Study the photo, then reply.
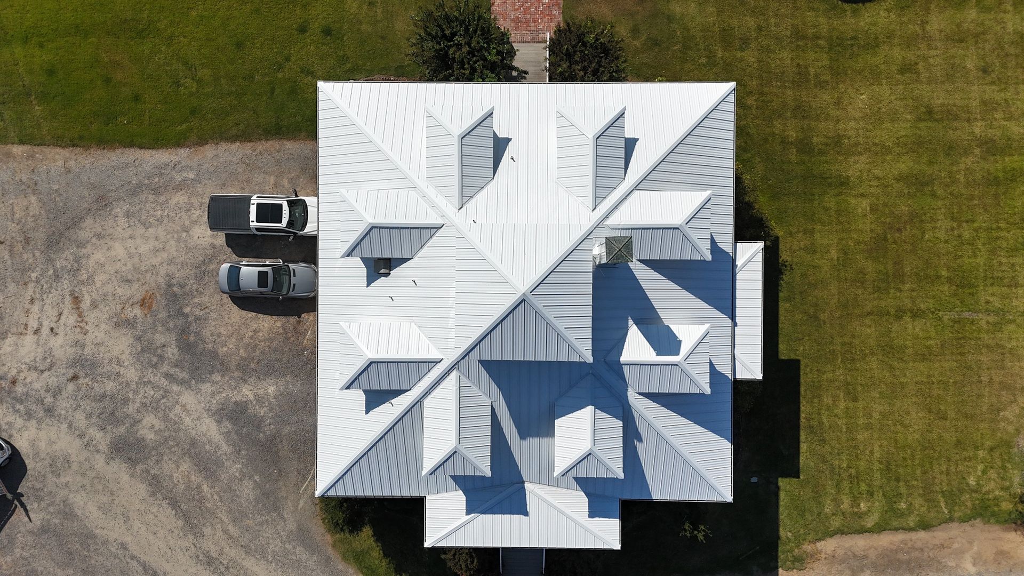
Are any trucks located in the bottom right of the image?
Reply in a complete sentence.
No, there is no truck in the bottom right of the image.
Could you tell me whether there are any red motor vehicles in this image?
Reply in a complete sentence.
No, the scene contains no red motor vehicle.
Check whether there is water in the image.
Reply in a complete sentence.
No, the picture contains no water.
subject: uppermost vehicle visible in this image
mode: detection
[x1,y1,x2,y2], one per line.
[206,185,318,242]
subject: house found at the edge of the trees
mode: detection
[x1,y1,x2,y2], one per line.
[316,82,763,550]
